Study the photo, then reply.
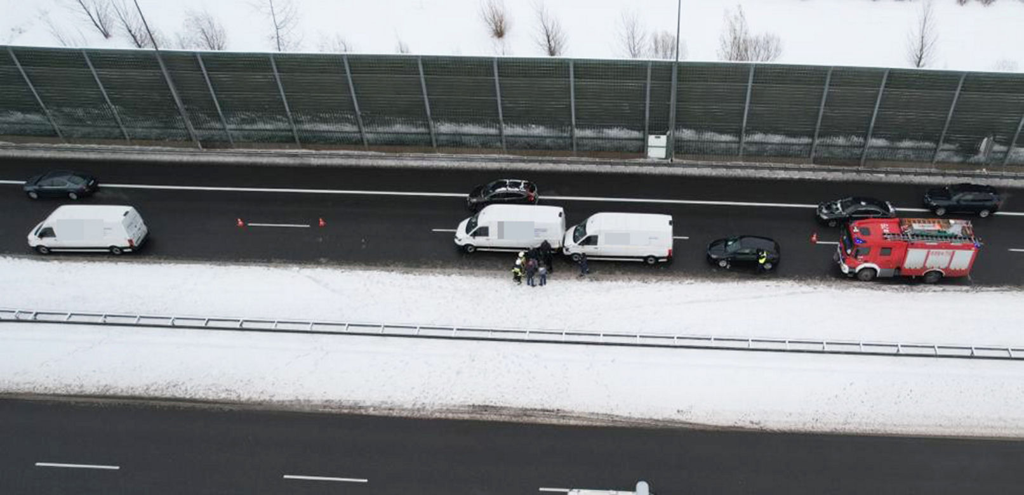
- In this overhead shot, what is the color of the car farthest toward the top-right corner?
black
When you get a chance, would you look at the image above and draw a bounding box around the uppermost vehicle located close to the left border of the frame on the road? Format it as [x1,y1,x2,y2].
[22,167,99,199]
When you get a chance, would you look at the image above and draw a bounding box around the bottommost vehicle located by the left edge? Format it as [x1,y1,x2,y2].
[26,204,150,255]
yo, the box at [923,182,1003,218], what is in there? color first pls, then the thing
black car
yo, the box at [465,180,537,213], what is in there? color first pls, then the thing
black car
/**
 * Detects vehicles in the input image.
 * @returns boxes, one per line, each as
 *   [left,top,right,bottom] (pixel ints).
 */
[836,217,982,284]
[560,213,673,264]
[708,234,781,272]
[22,167,99,199]
[923,182,1003,218]
[454,204,565,255]
[566,484,652,495]
[26,204,150,255]
[465,180,537,213]
[814,195,896,227]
